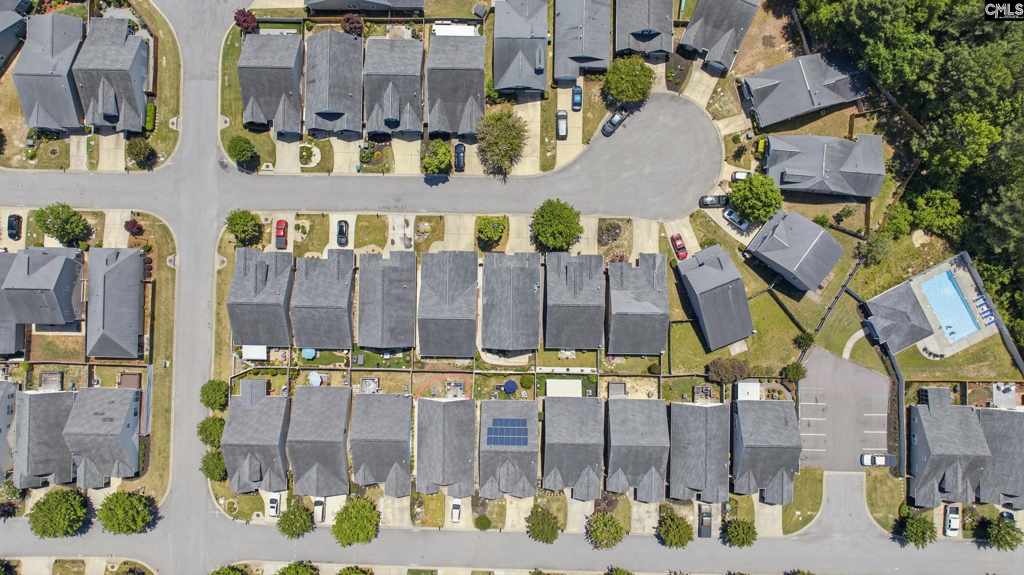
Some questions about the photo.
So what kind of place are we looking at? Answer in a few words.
residential area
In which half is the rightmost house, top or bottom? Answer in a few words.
bottom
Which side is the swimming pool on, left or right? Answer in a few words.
right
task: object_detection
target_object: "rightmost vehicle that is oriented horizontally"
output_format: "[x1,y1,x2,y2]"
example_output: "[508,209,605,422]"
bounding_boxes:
[861,454,892,467]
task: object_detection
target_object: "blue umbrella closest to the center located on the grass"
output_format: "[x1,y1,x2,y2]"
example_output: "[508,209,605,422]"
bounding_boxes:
[504,379,517,393]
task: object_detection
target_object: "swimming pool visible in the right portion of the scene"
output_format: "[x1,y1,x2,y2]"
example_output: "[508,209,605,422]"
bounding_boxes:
[910,258,998,360]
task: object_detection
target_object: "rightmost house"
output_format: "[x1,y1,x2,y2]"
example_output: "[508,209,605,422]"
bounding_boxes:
[975,407,1024,512]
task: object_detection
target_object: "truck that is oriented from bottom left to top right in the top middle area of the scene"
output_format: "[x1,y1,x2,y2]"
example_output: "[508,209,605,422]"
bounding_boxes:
[602,107,629,136]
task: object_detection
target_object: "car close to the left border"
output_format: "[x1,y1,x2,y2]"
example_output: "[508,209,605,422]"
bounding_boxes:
[9,217,23,239]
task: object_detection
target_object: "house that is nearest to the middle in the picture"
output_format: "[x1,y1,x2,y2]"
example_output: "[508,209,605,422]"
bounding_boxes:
[482,253,542,349]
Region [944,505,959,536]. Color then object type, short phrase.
white vehicle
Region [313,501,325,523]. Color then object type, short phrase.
white vehicle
